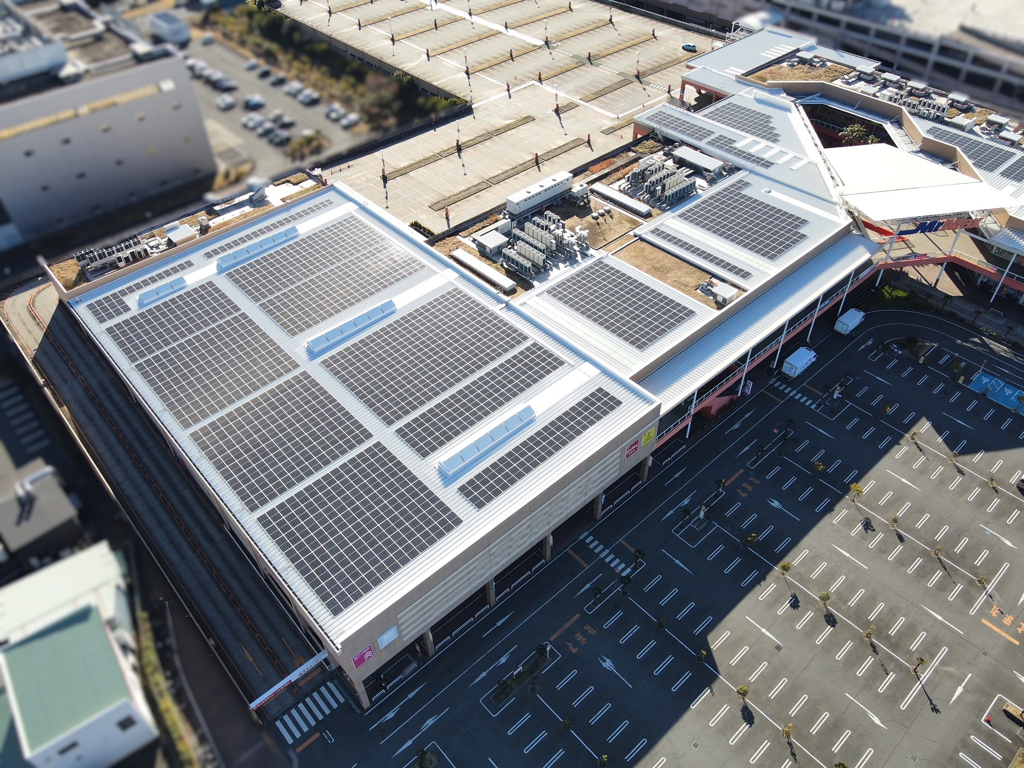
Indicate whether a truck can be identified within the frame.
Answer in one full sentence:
Yes, a truck can be made out from above.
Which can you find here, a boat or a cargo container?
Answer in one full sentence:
I can see a cargo container in this picture.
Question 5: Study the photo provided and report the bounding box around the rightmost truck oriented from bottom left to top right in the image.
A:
[836,301,870,332]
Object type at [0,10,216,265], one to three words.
building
